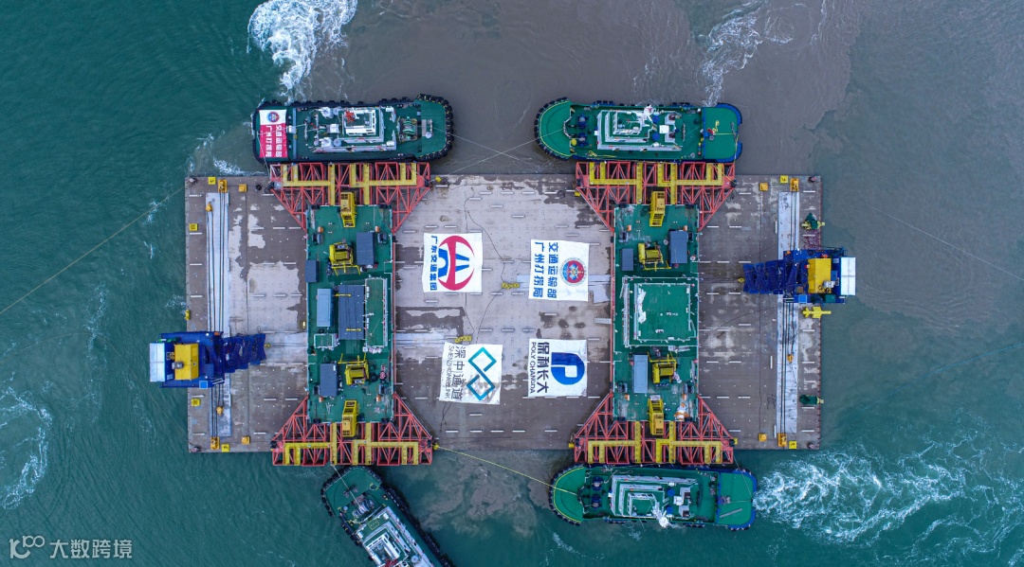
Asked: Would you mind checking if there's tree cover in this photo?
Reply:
No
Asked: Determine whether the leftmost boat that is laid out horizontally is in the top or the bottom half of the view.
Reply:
top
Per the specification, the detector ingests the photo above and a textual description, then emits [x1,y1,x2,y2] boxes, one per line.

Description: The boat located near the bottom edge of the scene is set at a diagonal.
[318,462,458,567]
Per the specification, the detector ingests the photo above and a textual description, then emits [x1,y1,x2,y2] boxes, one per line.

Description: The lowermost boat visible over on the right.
[549,460,758,529]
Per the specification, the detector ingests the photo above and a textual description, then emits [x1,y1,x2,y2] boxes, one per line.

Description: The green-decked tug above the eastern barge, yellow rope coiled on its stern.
[535,93,744,164]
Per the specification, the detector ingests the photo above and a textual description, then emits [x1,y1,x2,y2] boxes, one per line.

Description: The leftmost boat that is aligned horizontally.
[250,91,454,166]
